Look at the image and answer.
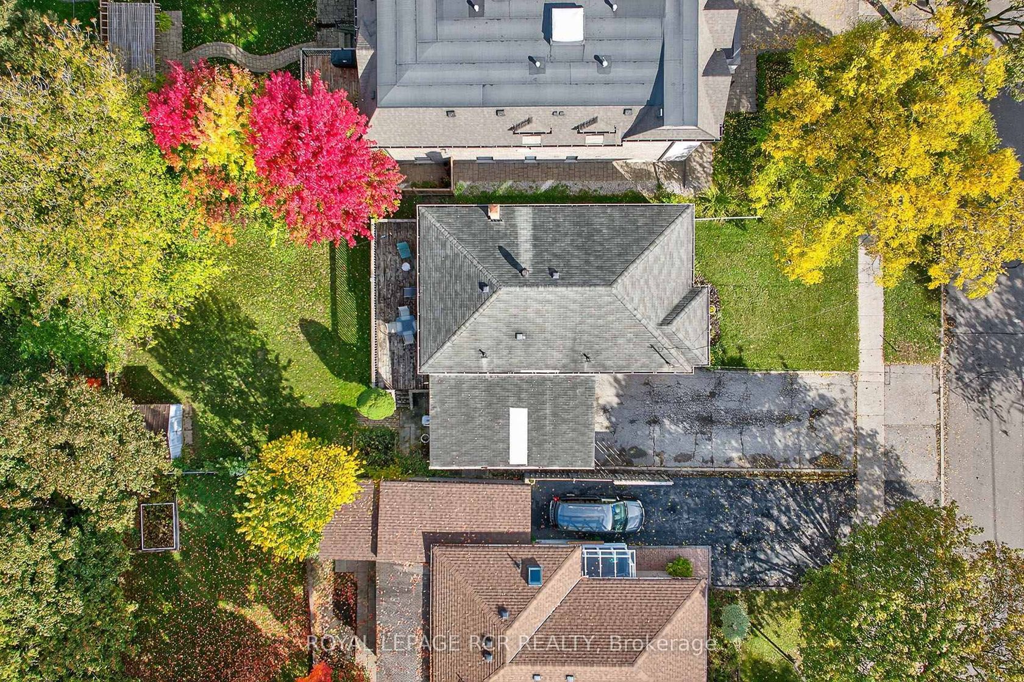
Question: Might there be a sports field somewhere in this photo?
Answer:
No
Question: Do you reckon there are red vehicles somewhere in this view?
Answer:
No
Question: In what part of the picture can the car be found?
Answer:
bottom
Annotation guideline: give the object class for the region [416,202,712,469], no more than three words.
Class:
house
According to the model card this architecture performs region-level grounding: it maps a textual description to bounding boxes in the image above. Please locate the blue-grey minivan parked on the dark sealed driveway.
[550,494,642,538]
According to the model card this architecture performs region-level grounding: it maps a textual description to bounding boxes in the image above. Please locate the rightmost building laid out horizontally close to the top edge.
[350,0,746,163]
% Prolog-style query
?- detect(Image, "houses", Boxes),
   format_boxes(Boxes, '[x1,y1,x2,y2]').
[350,0,746,163]
[416,202,712,469]
[318,478,709,682]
